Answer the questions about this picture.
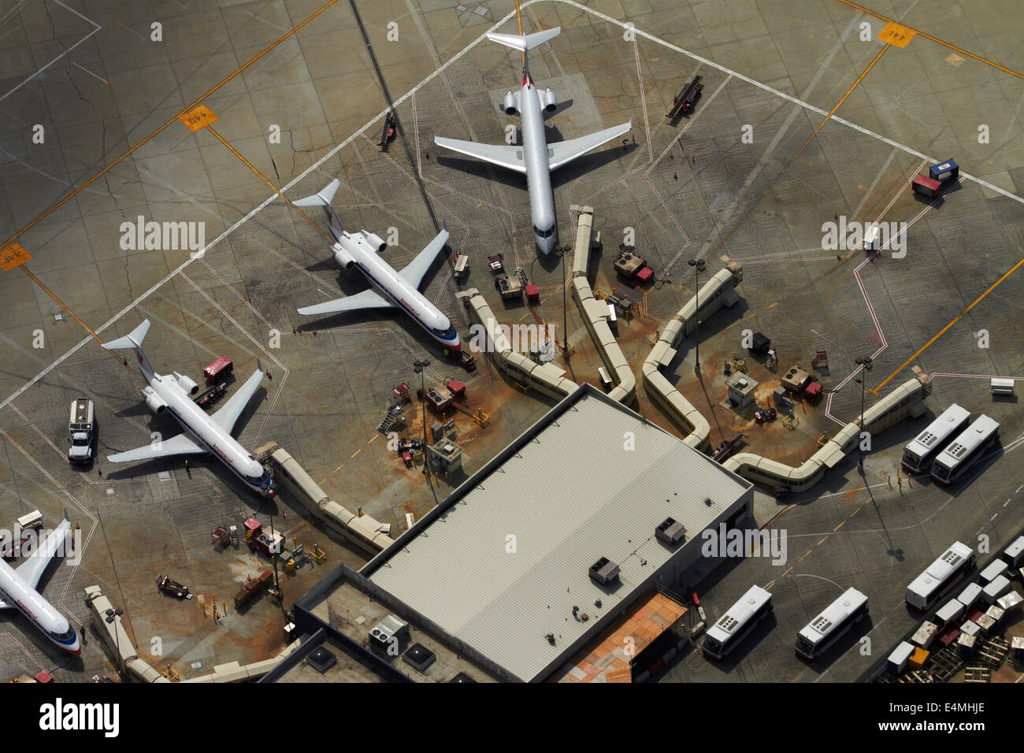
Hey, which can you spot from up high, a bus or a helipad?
bus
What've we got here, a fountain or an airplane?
airplane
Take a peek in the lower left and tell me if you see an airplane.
Yes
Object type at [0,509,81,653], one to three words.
airplane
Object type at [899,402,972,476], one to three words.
bus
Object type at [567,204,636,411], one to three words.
jet bridge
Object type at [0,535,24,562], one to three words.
work vehicle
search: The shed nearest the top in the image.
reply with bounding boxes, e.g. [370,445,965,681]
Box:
[724,370,761,412]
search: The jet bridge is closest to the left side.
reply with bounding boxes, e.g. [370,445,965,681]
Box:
[84,589,315,714]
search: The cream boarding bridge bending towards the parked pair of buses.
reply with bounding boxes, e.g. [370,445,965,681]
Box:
[722,366,935,502]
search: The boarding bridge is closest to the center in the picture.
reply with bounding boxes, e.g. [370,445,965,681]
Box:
[455,288,583,408]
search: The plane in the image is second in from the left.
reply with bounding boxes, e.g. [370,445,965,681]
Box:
[101,324,274,498]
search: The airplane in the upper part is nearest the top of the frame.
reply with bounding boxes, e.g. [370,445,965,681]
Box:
[429,31,635,256]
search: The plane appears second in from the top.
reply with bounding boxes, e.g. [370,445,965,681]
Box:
[291,183,460,352]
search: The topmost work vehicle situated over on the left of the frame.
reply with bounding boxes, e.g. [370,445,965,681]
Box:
[379,113,402,146]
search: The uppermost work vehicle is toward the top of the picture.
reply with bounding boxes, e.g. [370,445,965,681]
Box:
[667,75,704,119]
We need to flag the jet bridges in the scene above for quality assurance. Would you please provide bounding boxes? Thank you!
[253,441,393,563]
[567,204,636,411]
[642,256,746,455]
[722,366,935,502]
[455,288,583,408]
[84,589,315,714]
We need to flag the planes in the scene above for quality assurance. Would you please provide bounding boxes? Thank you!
[291,183,460,352]
[0,509,81,653]
[429,31,635,256]
[101,324,274,498]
